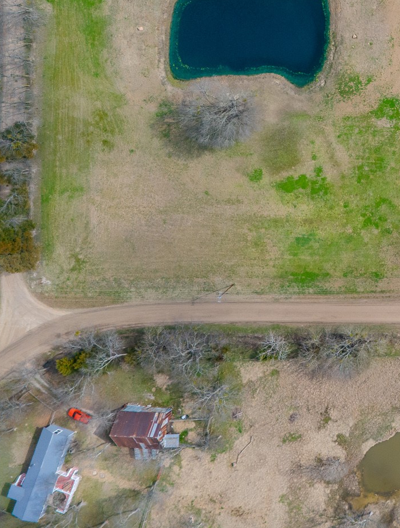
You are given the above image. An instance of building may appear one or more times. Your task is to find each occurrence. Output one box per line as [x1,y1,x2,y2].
[7,424,74,522]
[109,407,168,450]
